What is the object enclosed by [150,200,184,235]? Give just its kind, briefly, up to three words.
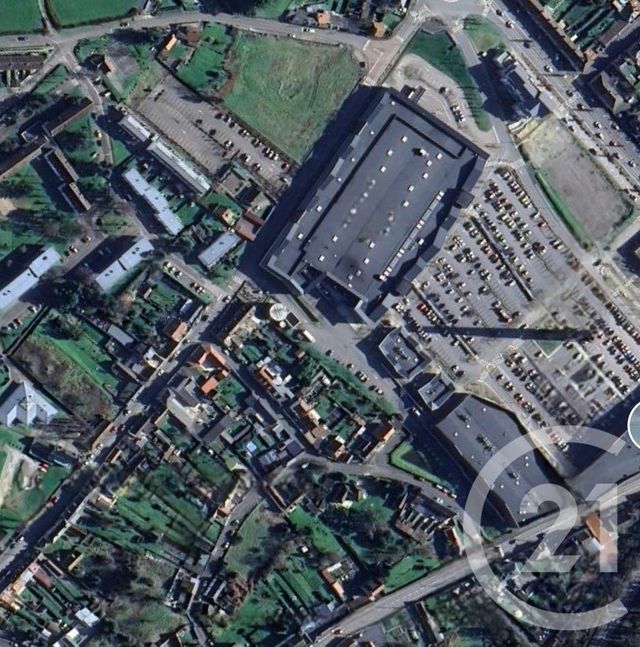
building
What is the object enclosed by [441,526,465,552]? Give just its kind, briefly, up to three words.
house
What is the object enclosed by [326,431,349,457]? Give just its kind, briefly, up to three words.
house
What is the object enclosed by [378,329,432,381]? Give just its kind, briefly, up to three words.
building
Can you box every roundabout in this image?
[423,0,479,23]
